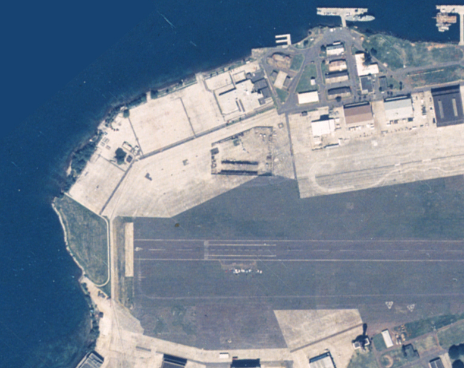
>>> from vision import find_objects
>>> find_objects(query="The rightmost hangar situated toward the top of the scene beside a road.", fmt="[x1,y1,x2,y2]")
[432,87,464,127]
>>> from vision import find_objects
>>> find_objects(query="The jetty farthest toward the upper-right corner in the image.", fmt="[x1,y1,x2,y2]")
[435,5,464,45]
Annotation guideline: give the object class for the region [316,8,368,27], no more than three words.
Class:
pier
